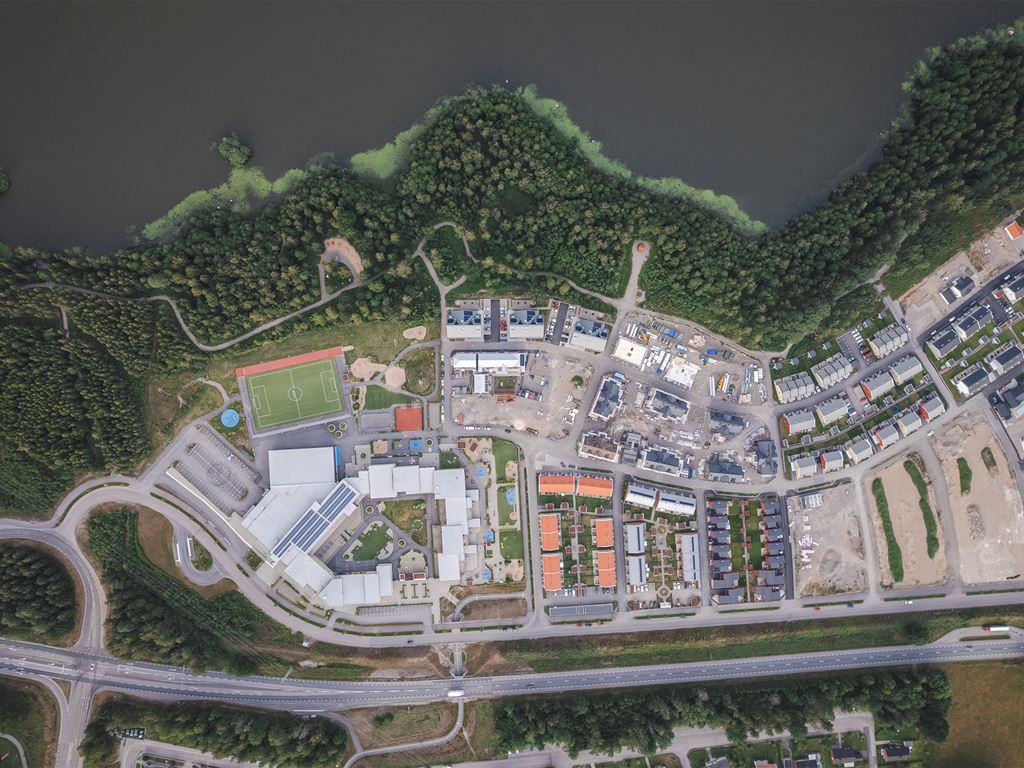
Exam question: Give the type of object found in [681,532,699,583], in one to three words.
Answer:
house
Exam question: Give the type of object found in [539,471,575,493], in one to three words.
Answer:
house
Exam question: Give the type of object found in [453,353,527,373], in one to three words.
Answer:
building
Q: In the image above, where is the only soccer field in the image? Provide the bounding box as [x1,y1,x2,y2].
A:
[237,354,351,438]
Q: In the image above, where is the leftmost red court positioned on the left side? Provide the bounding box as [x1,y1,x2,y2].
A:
[396,406,422,432]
